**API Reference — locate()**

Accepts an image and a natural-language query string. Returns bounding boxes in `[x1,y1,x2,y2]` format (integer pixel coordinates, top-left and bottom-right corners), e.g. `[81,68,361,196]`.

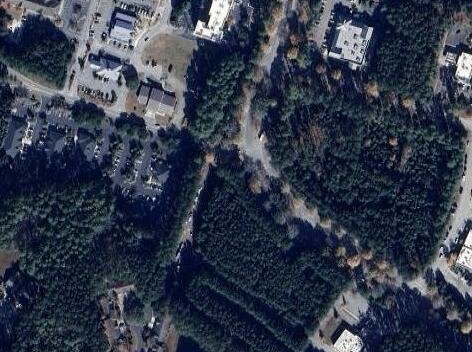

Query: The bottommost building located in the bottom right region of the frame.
[334,330,364,352]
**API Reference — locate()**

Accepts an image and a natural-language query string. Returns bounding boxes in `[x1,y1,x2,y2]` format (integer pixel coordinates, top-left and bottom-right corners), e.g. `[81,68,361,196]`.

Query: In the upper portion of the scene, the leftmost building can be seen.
[2,118,27,155]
